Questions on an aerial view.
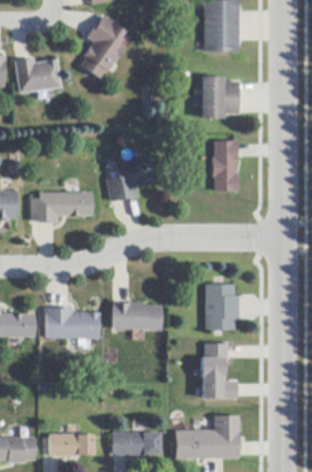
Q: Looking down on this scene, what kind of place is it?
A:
residential area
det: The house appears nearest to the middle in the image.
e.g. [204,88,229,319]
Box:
[106,163,140,200]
